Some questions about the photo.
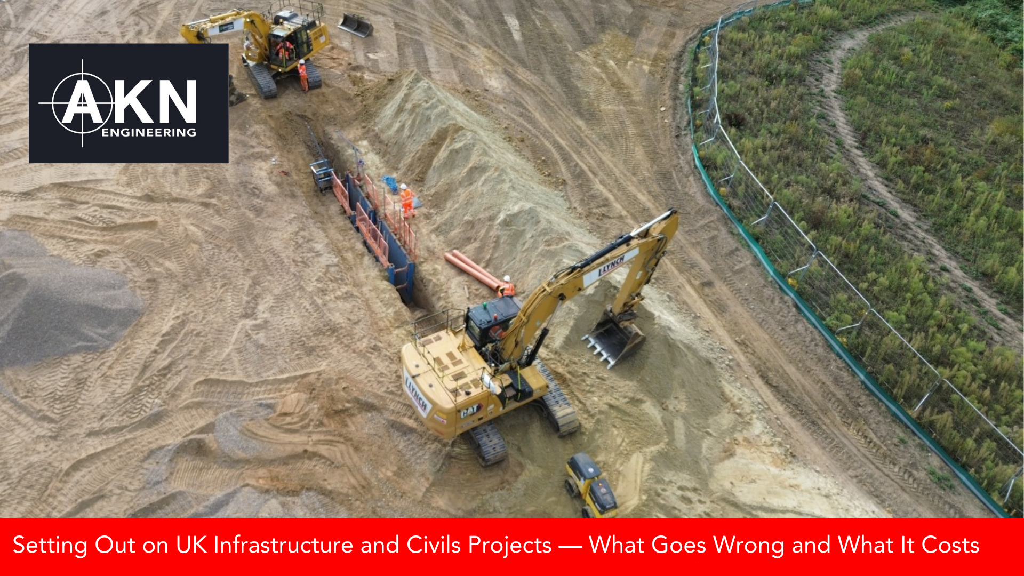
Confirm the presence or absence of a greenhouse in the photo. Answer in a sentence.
No, there appears to be no greenhouse in this shot.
